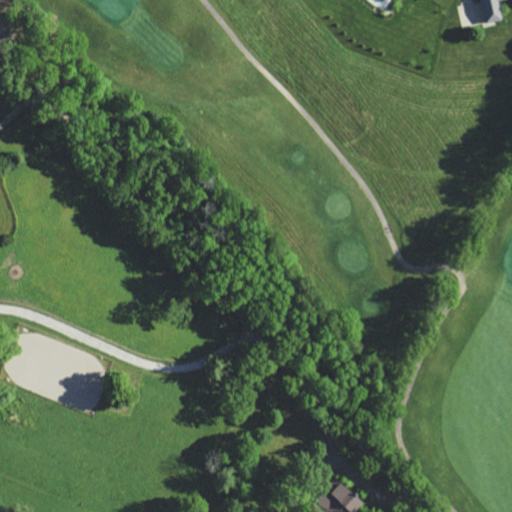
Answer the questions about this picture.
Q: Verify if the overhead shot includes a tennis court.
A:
No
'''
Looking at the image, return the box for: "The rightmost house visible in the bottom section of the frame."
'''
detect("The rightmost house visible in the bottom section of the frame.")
[328,484,360,512]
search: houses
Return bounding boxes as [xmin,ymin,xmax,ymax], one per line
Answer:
[328,484,360,512]
[483,0,503,18]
